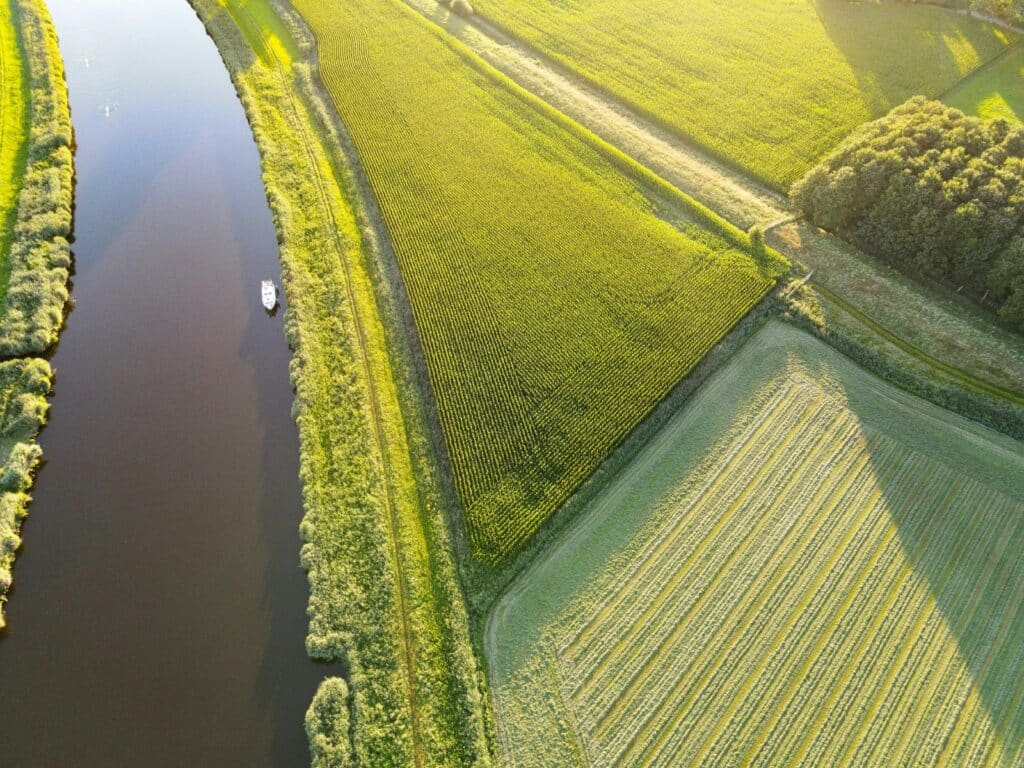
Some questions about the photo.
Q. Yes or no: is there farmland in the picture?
Yes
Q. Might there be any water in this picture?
Yes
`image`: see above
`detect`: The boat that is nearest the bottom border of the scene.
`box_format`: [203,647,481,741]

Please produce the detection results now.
[261,280,278,313]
